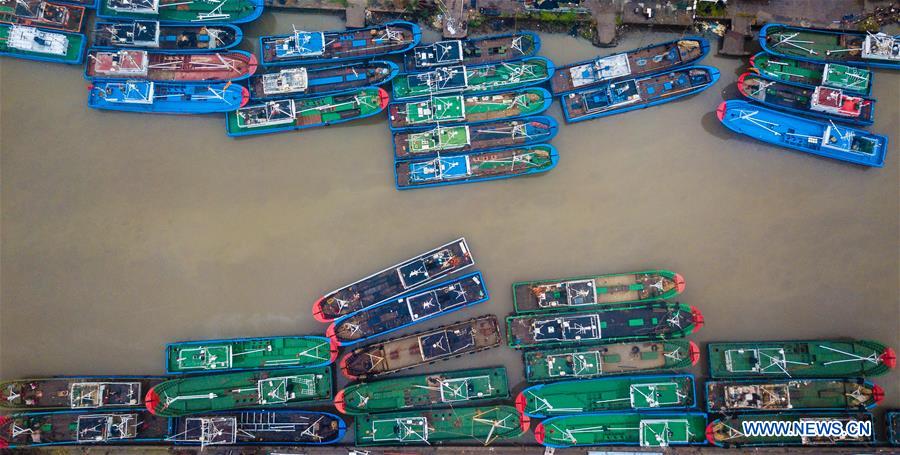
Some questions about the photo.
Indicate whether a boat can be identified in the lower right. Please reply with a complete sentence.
Yes, looking in the lower right, one can make out a boat.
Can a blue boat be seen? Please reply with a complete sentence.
Yes, a blue boat appears in the view.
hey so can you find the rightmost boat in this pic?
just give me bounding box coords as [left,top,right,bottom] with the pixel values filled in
[879,410,900,444]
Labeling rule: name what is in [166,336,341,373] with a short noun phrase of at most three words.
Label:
boat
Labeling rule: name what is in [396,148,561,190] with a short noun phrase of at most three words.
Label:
boat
